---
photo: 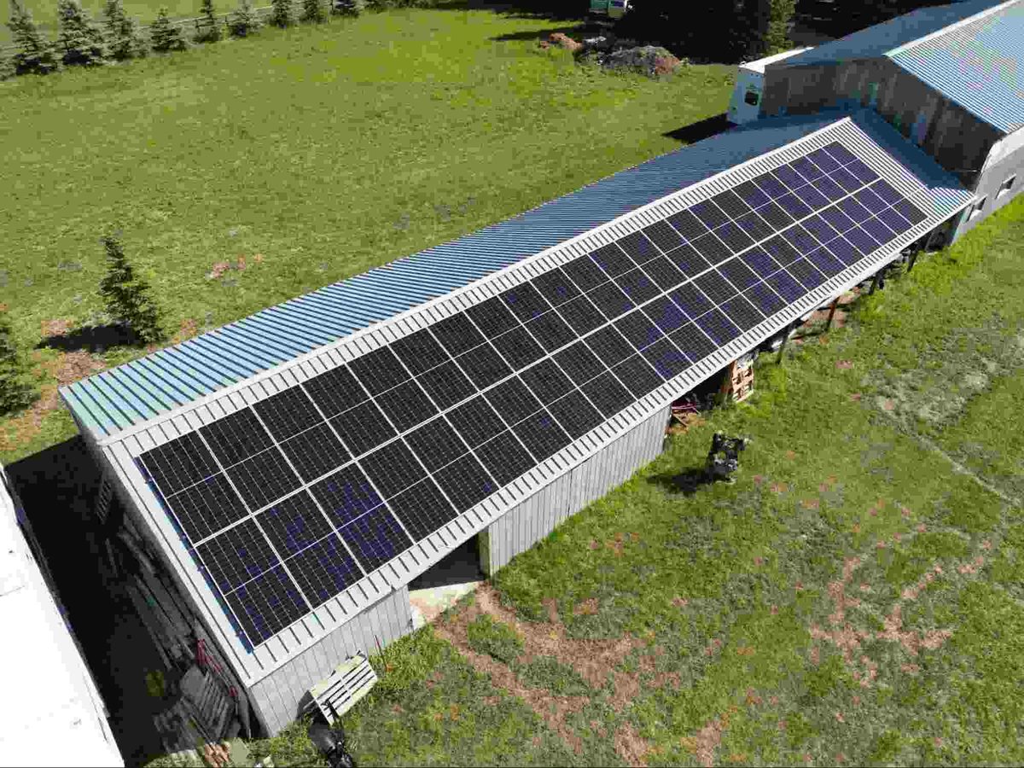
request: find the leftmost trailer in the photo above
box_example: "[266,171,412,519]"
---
[0,483,130,768]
